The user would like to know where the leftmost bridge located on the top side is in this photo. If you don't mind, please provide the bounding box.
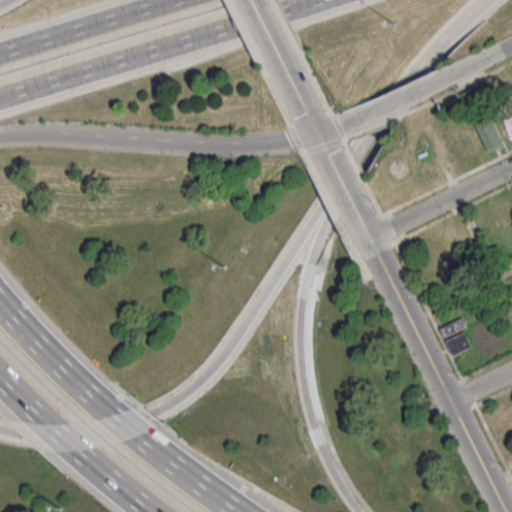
[223,0,290,46]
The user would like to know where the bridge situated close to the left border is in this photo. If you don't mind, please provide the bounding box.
[11,402,164,458]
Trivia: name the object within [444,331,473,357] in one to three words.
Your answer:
house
